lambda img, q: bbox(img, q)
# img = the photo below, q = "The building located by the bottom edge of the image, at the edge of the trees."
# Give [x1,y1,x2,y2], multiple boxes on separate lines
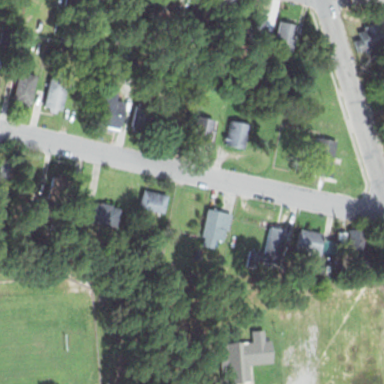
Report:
[222,328,276,384]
